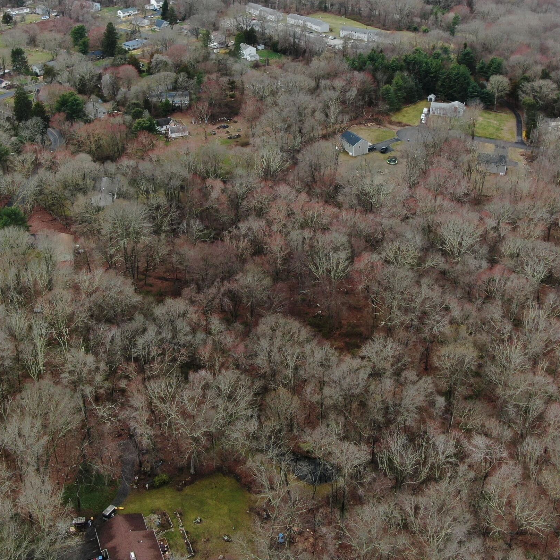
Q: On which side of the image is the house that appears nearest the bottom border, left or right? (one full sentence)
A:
The house that appears nearest the bottom border is on the left side of the image.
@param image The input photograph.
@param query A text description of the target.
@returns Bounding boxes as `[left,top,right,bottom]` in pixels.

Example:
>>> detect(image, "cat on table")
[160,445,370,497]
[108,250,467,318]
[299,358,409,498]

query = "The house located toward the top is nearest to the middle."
[327,124,370,156]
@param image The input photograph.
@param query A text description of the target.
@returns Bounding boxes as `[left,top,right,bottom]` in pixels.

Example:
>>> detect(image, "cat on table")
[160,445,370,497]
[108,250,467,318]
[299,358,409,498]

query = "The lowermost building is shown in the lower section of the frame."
[95,510,180,560]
